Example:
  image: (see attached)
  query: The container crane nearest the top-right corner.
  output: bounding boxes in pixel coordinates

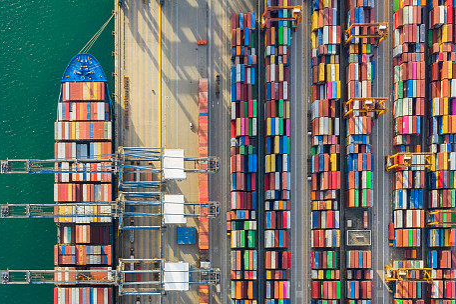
[340,23,389,49]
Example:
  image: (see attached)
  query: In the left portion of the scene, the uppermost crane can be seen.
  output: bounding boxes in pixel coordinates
[0,148,222,195]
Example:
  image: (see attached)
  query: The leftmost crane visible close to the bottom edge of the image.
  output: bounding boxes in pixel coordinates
[0,258,221,293]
